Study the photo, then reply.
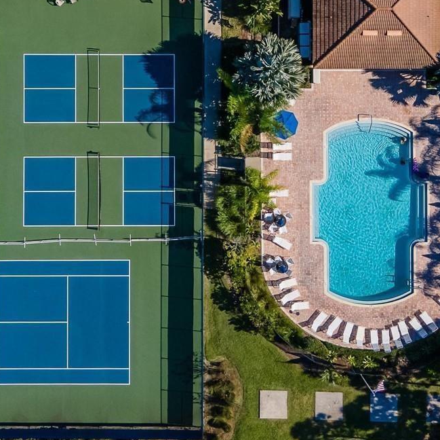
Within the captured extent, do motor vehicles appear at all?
No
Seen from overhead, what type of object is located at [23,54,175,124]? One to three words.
sports court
